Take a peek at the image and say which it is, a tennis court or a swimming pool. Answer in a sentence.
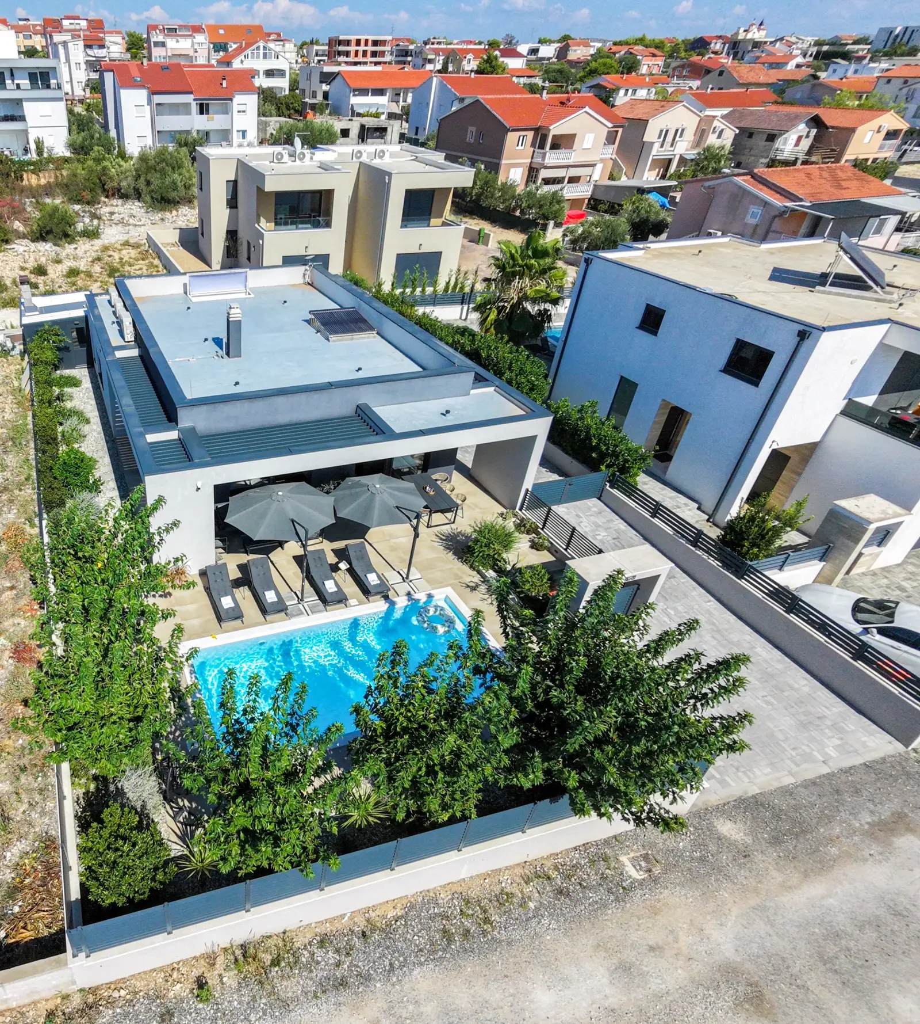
I can see a swimming pool in this picture.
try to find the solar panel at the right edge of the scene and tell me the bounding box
[812,240,903,302]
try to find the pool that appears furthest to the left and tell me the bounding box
[179,587,539,772]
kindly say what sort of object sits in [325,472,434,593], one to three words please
umbrella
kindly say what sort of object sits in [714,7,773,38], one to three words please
house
